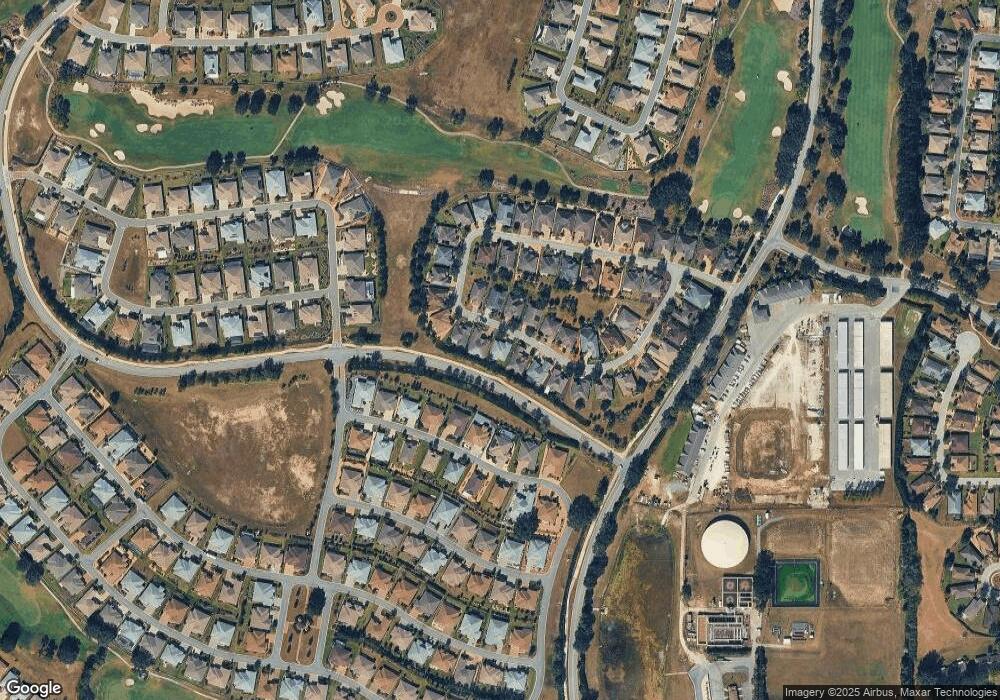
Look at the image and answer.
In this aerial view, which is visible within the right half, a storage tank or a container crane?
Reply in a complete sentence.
Looking within the right half, you will find a storage tank.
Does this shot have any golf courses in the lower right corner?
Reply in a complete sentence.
No, no golf course appears in the lower right corner.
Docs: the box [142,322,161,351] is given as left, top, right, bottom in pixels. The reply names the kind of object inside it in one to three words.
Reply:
house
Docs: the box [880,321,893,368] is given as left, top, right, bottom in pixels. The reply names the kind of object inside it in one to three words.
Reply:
shed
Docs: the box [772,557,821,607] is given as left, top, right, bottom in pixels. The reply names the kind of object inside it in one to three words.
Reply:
pond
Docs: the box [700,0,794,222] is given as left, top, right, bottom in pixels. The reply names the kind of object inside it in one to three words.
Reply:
golf course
